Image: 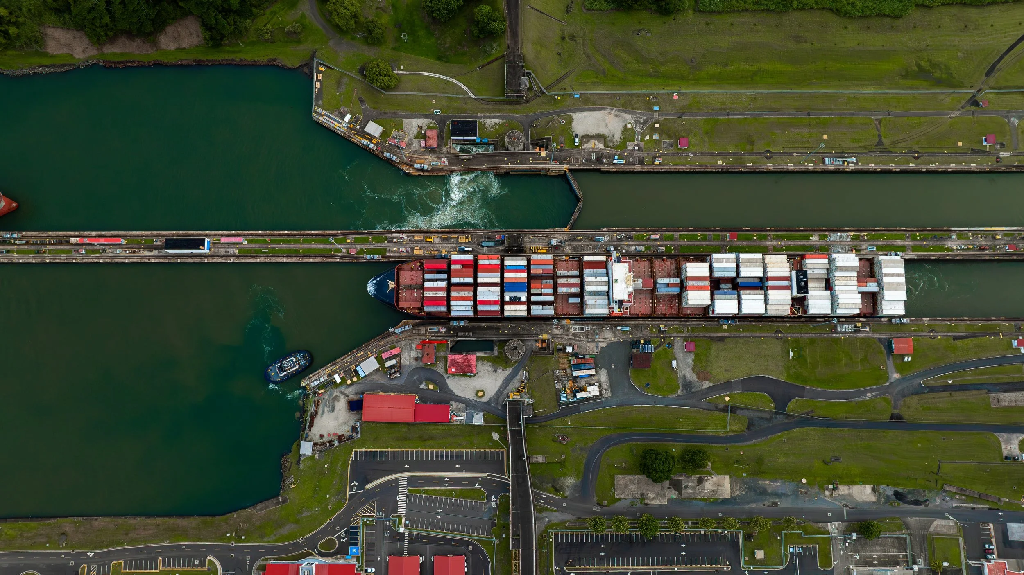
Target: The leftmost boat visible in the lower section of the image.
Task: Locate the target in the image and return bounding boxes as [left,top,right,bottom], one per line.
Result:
[263,349,316,383]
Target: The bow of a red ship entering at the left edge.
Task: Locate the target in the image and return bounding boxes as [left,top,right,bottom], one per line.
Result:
[0,191,23,221]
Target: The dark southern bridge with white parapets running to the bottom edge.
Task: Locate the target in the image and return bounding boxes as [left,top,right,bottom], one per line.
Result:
[506,399,537,575]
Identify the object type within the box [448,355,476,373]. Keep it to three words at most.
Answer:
building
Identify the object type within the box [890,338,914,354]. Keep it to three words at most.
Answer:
building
